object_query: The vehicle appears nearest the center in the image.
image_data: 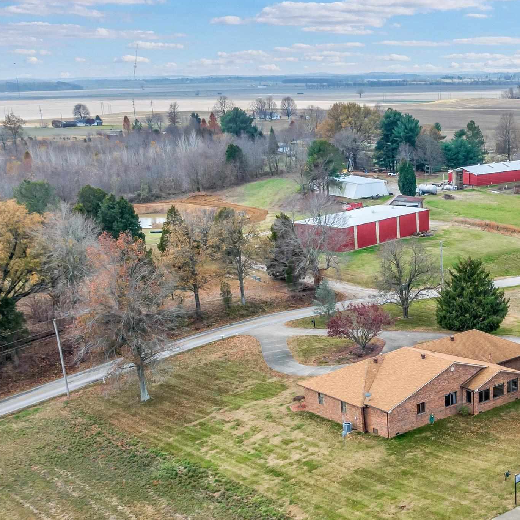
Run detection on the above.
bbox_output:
[335,199,365,213]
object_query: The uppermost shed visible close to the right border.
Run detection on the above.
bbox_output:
[445,160,520,185]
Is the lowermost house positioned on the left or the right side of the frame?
right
